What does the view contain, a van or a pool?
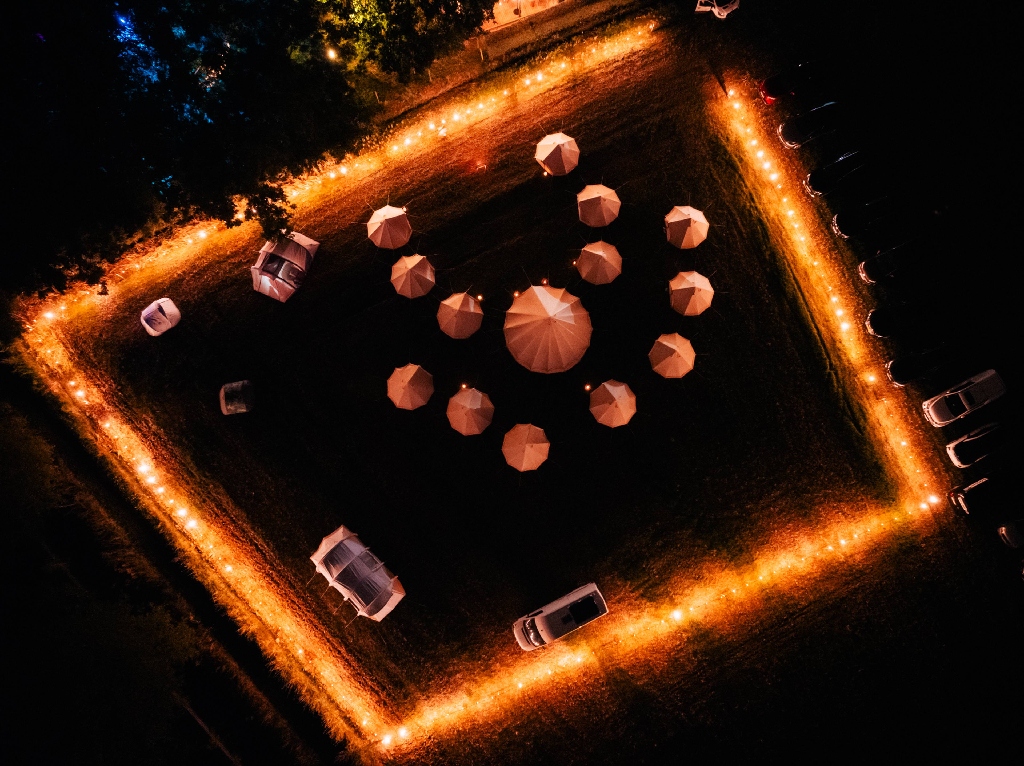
van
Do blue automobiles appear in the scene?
No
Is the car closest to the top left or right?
right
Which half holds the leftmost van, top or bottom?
bottom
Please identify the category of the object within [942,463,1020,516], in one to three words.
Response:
van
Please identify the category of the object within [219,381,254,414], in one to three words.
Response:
tent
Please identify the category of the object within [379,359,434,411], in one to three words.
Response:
tent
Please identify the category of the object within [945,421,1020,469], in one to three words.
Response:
car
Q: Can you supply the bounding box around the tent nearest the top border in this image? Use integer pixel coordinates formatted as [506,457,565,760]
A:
[527,124,584,185]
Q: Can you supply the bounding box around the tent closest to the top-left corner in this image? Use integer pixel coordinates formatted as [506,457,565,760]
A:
[137,298,182,338]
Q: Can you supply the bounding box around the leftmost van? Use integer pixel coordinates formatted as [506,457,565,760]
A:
[513,584,612,652]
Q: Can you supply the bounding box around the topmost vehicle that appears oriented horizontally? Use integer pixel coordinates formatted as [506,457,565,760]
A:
[697,0,742,20]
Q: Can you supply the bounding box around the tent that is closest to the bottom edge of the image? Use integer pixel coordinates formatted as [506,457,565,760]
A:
[306,523,405,626]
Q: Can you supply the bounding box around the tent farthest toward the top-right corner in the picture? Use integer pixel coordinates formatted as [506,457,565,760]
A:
[666,202,722,257]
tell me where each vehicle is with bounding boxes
[921,372,1006,427]
[772,100,842,148]
[995,511,1024,550]
[853,235,926,285]
[513,584,612,652]
[862,289,927,336]
[945,421,1020,469]
[697,0,742,20]
[942,463,1020,516]
[800,147,872,198]
[882,336,951,384]
[756,62,818,107]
